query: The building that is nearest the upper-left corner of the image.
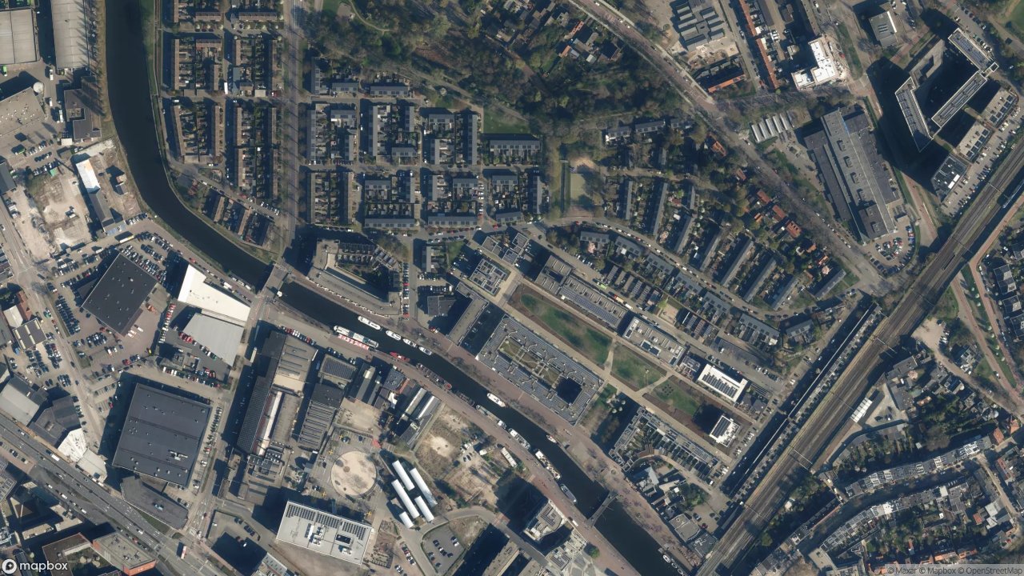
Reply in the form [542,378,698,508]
[0,8,38,66]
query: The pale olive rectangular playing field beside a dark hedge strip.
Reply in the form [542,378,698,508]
[571,174,602,209]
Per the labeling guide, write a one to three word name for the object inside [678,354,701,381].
greenhouse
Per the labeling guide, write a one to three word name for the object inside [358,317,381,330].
boat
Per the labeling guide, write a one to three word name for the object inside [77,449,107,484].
shed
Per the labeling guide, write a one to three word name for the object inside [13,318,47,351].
building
